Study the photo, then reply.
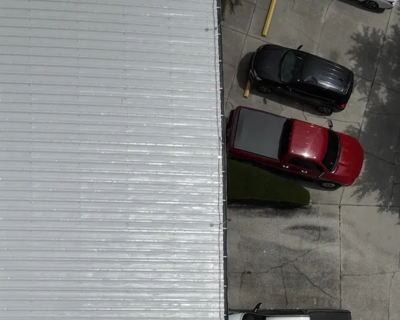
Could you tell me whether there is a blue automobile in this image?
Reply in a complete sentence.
No, no blue automobile can be seen from above.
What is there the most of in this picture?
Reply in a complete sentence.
For the most part, this view shows buildings.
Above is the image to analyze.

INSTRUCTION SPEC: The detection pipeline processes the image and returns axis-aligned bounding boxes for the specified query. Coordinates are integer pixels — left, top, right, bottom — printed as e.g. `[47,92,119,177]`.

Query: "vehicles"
[246,40,360,115]
[229,105,365,184]
[229,304,351,320]
[355,0,400,10]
